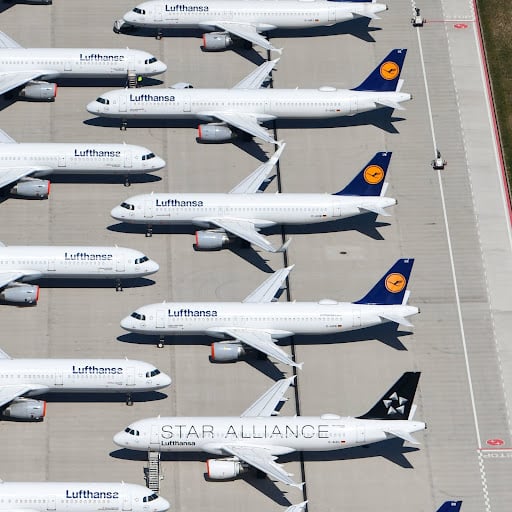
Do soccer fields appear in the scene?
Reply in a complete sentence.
No, I can't see a single soccer field in this photo.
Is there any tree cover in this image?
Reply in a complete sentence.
No, the picture contains no tree cover.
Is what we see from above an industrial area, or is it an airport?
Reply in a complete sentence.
This looks like an airport.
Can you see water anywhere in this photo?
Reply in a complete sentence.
No, there is no water in the image.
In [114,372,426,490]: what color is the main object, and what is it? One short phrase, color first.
white airplane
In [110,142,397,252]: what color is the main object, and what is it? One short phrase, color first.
white airplane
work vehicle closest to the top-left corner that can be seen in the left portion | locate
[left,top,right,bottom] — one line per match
[114,20,139,33]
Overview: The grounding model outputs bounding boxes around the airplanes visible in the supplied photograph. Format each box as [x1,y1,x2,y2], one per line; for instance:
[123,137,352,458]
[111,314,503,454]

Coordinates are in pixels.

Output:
[0,474,170,512]
[87,48,412,146]
[124,0,388,54]
[120,260,420,370]
[114,372,426,490]
[0,28,166,99]
[0,346,172,418]
[0,240,160,302]
[110,142,397,252]
[0,124,166,194]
